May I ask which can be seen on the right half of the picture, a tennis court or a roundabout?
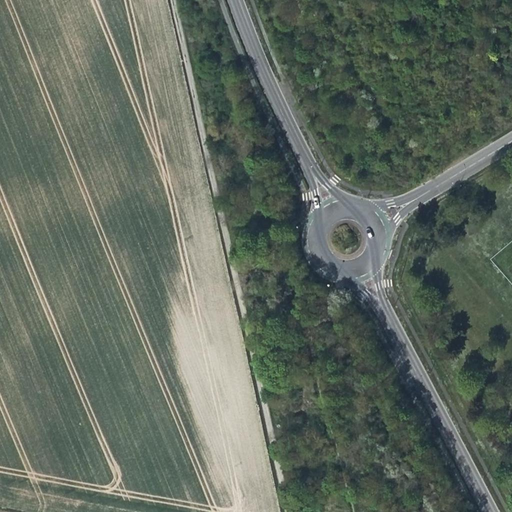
roundabout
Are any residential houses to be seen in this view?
No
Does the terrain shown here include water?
No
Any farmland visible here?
Yes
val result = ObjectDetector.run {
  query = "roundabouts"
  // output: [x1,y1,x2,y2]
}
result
[307,189,398,286]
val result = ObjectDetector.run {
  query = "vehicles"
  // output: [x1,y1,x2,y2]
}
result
[314,198,320,208]
[366,228,372,238]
